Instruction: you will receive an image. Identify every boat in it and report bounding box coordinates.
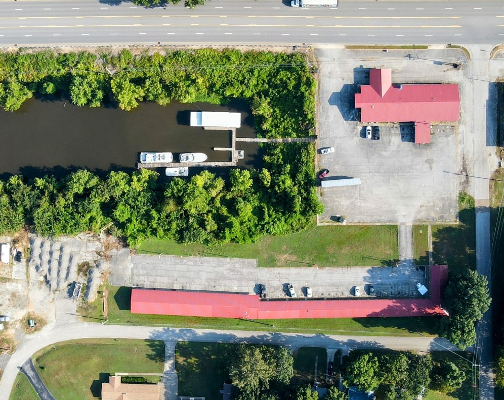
[180,153,207,163]
[140,153,173,163]
[237,151,243,160]
[166,168,188,177]
[190,111,241,126]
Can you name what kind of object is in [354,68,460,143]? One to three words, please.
building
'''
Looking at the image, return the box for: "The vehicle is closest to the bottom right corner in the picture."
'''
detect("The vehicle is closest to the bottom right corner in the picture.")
[414,281,428,295]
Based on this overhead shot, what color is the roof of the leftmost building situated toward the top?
red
